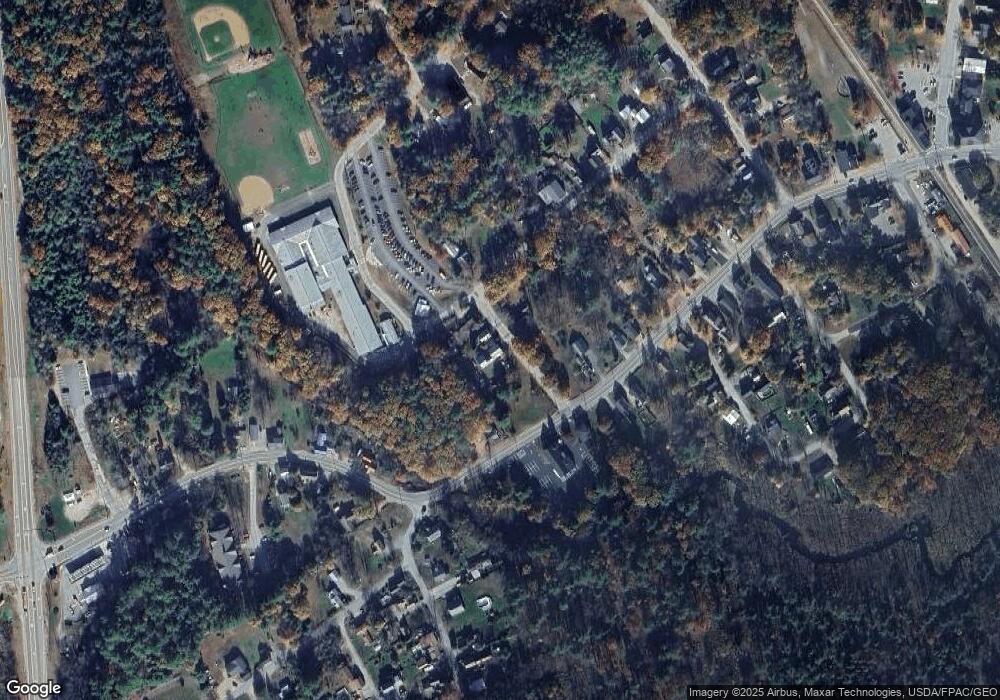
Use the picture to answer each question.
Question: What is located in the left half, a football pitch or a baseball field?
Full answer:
The feature located in the left half is a baseball field.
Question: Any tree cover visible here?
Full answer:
Yes, the picture does contain tree cover.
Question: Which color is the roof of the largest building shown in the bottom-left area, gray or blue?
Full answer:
In this view, the roof of the largest building shown in the bottom-left area is gray.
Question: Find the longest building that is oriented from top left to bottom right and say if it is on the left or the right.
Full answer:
You can find the longest building that is oriented from top left to bottom right on the left side of the picture.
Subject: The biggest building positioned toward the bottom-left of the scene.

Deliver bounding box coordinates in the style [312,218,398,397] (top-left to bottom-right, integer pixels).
[208,527,243,578]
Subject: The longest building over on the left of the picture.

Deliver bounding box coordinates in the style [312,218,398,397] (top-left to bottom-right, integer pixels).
[269,205,392,357]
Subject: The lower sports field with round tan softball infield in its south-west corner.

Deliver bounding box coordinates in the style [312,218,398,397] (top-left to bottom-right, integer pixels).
[213,61,333,214]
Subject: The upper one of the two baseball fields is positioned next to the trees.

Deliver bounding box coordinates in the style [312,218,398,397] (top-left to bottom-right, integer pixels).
[185,0,284,72]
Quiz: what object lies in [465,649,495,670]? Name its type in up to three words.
house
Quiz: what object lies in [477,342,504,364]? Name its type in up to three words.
house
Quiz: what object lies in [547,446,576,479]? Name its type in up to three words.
building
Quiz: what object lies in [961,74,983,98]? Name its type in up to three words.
building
